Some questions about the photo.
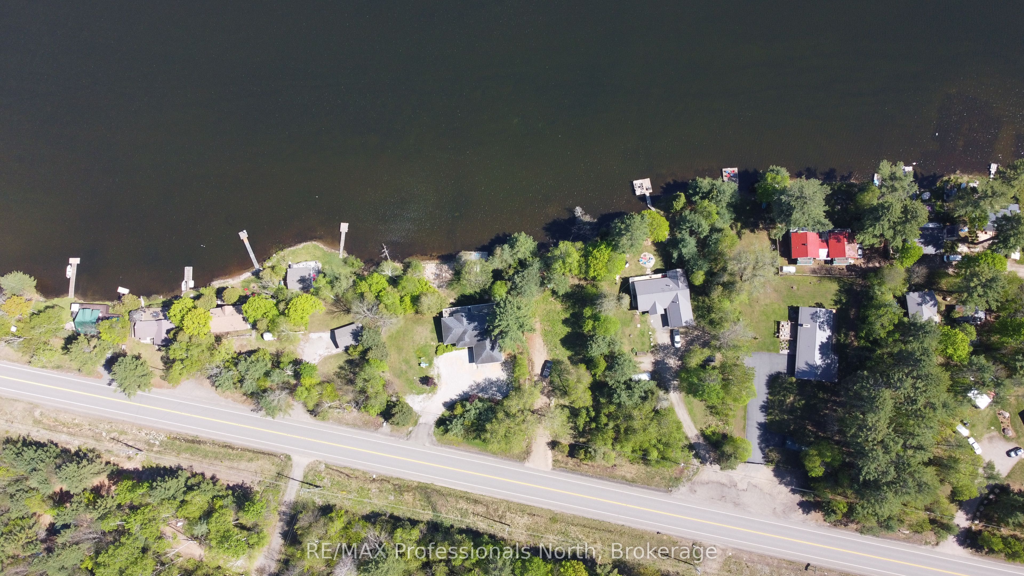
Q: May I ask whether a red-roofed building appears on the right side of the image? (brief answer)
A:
Yes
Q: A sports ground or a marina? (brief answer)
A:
marina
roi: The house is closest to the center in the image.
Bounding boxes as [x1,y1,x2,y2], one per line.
[441,307,503,365]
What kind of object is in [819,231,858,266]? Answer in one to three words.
house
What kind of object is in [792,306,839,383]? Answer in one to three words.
house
